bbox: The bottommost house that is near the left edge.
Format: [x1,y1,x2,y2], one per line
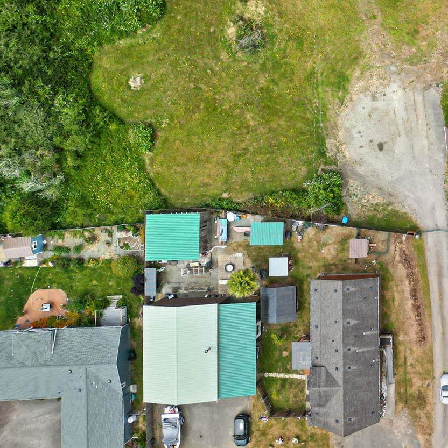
[0,325,132,448]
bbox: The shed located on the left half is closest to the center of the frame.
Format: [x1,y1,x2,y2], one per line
[144,211,206,261]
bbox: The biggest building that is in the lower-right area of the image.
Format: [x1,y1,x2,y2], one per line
[292,275,394,437]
